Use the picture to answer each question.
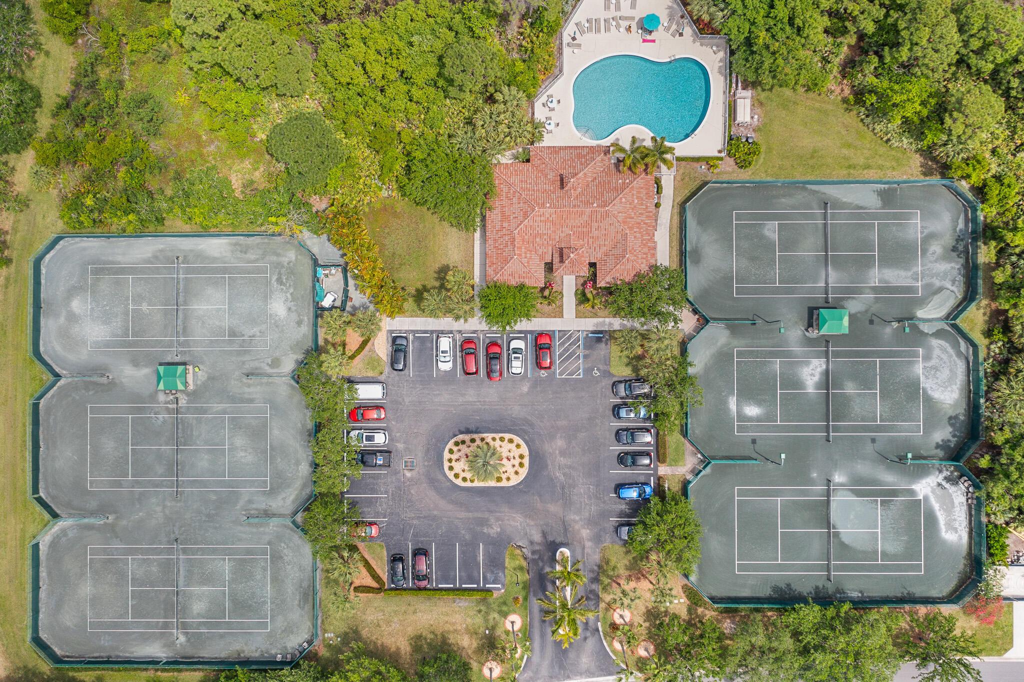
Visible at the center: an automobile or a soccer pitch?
automobile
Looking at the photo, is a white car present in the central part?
Yes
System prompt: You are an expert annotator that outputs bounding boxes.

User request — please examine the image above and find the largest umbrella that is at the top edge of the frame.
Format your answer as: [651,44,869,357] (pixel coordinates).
[642,10,661,28]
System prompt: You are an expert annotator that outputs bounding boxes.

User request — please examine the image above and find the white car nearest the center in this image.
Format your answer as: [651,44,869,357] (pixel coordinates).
[508,339,525,376]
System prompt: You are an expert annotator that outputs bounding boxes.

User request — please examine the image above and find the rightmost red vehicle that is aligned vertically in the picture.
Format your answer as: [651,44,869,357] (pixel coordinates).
[535,333,553,370]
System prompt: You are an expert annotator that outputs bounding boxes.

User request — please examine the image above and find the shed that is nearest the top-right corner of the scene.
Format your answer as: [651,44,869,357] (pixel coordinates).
[736,67,753,127]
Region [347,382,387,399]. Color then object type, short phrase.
white vehicle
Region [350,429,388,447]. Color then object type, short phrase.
white car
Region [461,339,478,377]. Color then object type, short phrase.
red car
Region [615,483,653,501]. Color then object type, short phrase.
blue car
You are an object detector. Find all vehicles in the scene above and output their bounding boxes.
[612,405,647,421]
[615,483,653,501]
[390,335,408,371]
[617,451,653,469]
[436,335,453,371]
[347,522,381,539]
[350,429,388,447]
[486,342,503,381]
[347,382,387,399]
[508,339,525,376]
[412,548,430,588]
[390,553,407,588]
[352,450,396,469]
[461,339,478,377]
[350,405,386,422]
[615,428,653,446]
[612,380,651,398]
[535,333,553,370]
